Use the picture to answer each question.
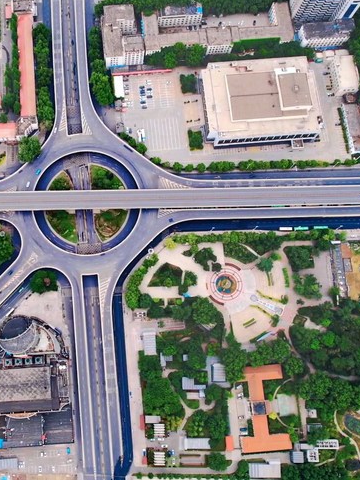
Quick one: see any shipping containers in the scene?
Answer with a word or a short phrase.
No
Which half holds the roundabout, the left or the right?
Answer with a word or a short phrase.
left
